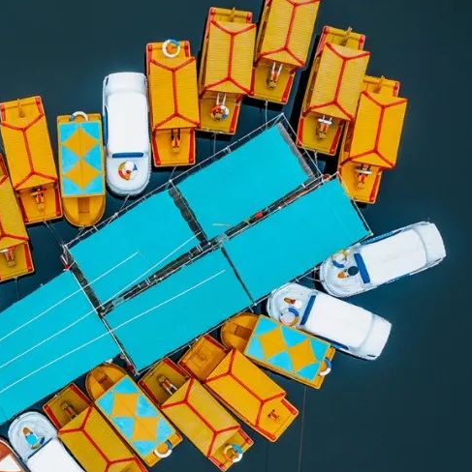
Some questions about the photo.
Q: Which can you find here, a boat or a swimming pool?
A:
boat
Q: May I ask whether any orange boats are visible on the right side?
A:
Yes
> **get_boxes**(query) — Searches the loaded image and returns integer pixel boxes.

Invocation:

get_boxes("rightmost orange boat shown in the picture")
[340,76,414,203]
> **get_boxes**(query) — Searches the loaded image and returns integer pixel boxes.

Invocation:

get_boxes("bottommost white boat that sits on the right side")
[266,282,390,360]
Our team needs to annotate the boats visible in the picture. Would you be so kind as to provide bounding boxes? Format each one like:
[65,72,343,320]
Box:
[305,220,446,294]
[44,385,148,472]
[266,282,390,360]
[59,114,107,245]
[248,0,319,122]
[340,76,414,203]
[146,40,202,188]
[179,334,297,440]
[140,358,253,472]
[297,26,374,167]
[207,316,335,390]
[0,153,33,300]
[101,72,152,208]
[0,95,62,242]
[11,409,90,472]
[87,365,183,468]
[196,5,258,153]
